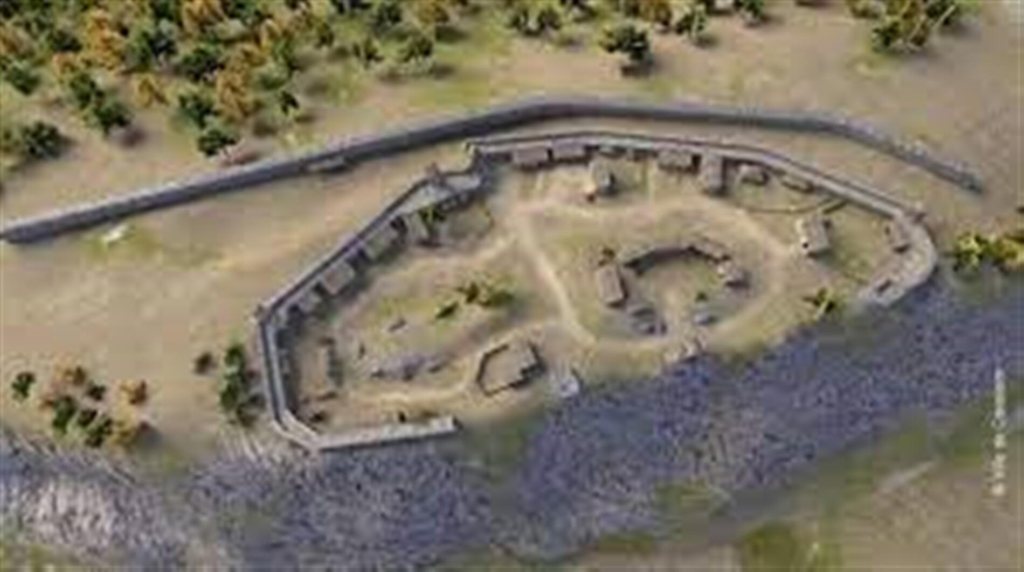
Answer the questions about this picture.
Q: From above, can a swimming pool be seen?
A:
No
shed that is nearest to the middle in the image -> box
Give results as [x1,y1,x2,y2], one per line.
[509,342,542,371]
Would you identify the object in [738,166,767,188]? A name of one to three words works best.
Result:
shed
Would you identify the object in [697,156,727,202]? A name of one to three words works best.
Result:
house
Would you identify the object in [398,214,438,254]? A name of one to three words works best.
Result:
house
